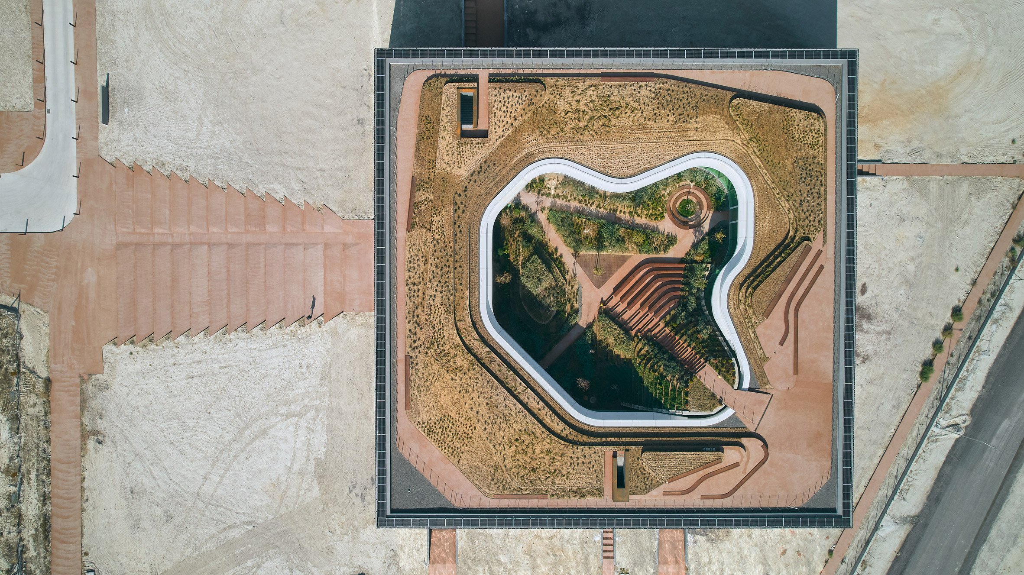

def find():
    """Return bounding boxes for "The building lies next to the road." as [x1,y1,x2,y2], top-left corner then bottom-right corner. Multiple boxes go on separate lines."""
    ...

[374,48,859,529]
